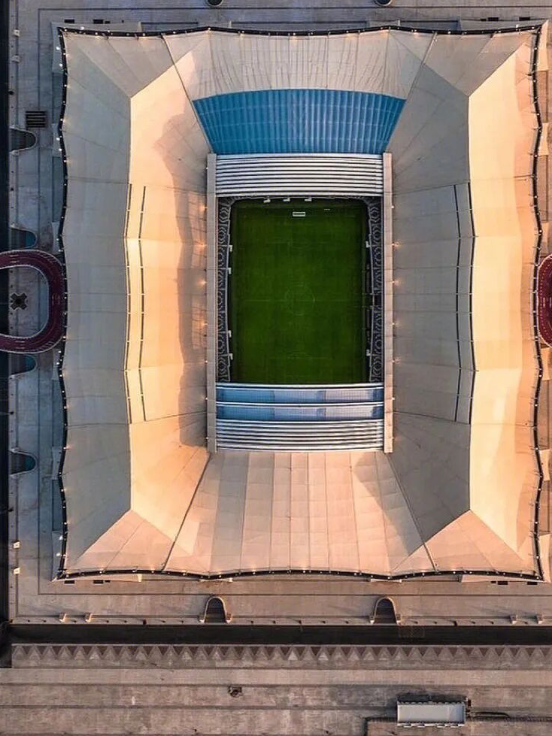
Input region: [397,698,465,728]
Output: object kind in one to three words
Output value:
building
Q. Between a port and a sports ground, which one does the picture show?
sports ground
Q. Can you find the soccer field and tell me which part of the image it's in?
center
